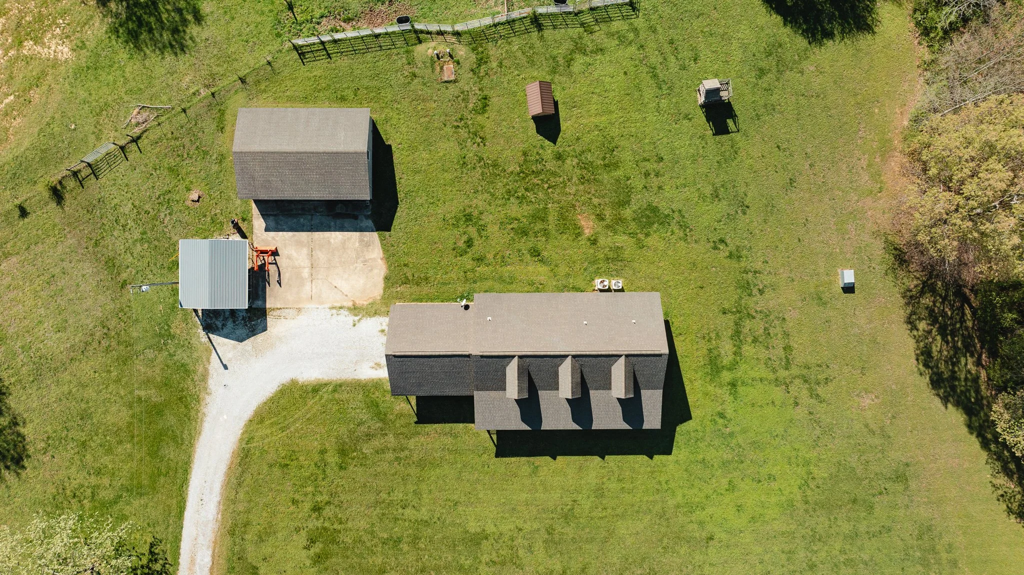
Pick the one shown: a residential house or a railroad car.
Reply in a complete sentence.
The image shows a residential house.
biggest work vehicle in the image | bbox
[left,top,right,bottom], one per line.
[255,246,278,273]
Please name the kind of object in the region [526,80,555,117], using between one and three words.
shed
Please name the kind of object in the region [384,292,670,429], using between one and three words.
house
